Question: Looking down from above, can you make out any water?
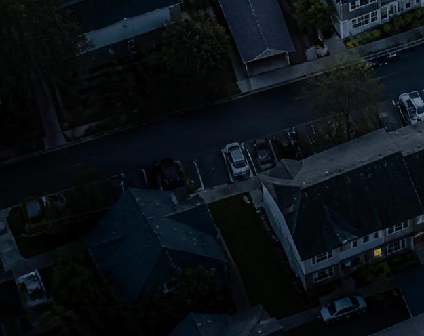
No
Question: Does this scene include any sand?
No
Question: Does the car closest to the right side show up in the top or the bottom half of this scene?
top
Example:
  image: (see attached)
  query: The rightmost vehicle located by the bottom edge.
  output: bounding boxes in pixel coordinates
[319,295,368,324]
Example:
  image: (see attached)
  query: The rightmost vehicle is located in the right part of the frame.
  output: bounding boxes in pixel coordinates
[401,91,424,124]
